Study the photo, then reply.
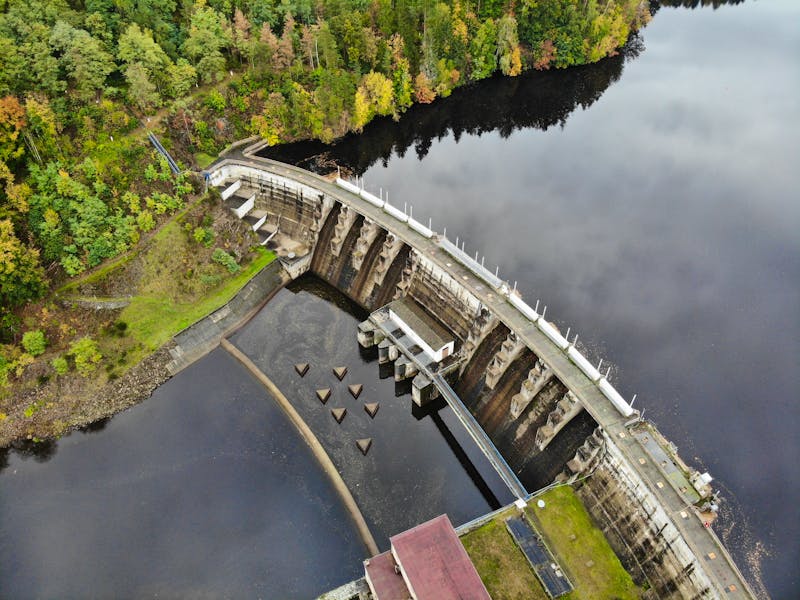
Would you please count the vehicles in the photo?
zero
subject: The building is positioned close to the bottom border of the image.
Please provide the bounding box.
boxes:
[364,514,494,600]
